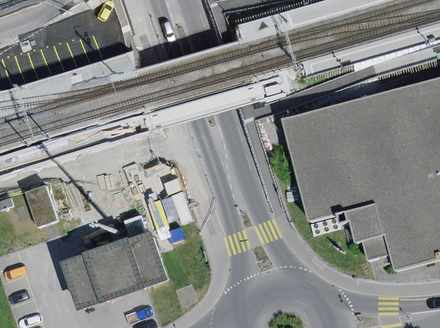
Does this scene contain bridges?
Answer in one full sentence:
Yes, a bridge is visible in the scene.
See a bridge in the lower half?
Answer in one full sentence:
No, no bridge can be made out in the lower half.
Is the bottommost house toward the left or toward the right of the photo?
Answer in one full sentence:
The bottommost house appears in the left half of the scene.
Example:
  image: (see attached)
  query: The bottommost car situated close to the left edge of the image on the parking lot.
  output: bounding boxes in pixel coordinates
[18,315,42,328]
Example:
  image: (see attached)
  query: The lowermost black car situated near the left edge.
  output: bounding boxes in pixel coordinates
[8,290,30,304]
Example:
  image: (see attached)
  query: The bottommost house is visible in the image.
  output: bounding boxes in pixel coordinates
[60,232,170,309]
